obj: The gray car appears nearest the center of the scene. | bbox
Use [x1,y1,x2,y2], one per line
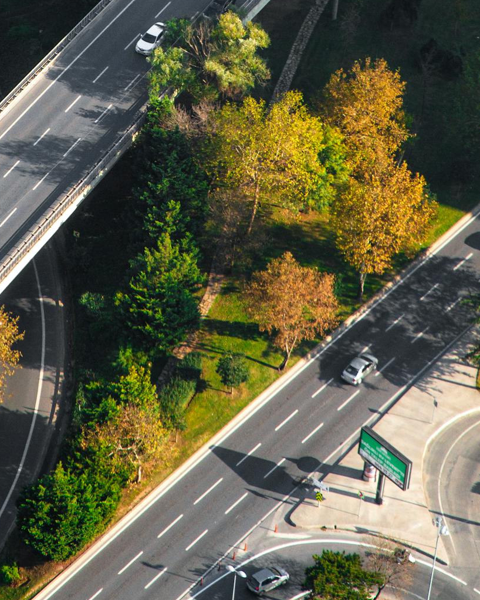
[340,353,381,386]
